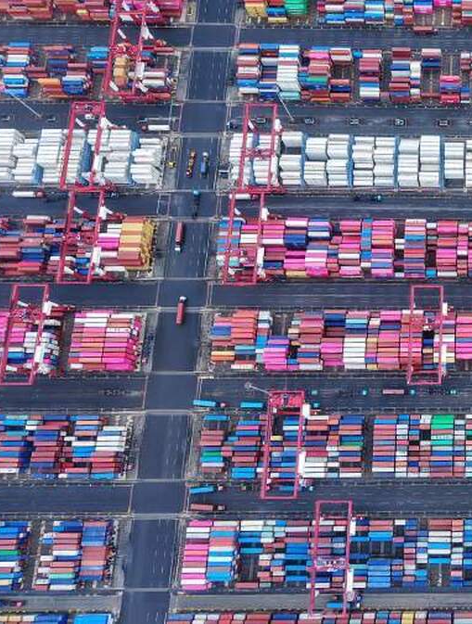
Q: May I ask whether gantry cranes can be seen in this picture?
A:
Yes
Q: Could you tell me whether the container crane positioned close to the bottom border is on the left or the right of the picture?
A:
right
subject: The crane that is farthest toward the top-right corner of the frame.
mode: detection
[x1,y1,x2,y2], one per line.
[237,104,290,194]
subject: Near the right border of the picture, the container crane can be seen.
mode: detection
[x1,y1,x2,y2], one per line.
[403,286,452,385]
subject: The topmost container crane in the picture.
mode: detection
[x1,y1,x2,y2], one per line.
[115,0,166,22]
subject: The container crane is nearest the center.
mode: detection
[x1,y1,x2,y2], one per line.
[222,191,276,285]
